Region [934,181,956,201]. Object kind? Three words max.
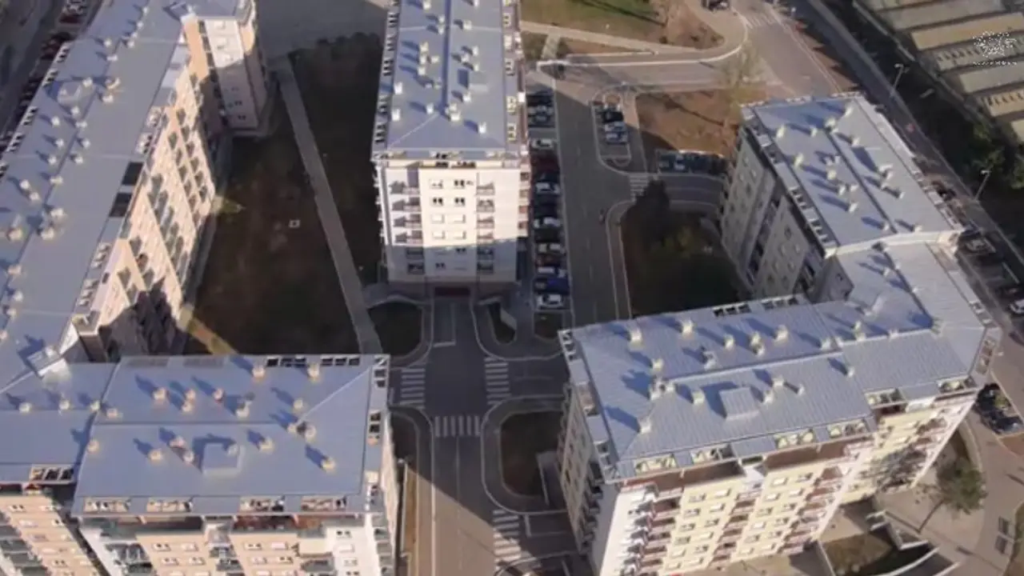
car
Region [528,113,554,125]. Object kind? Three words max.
vehicle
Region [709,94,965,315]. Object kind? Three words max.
building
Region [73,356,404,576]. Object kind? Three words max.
building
